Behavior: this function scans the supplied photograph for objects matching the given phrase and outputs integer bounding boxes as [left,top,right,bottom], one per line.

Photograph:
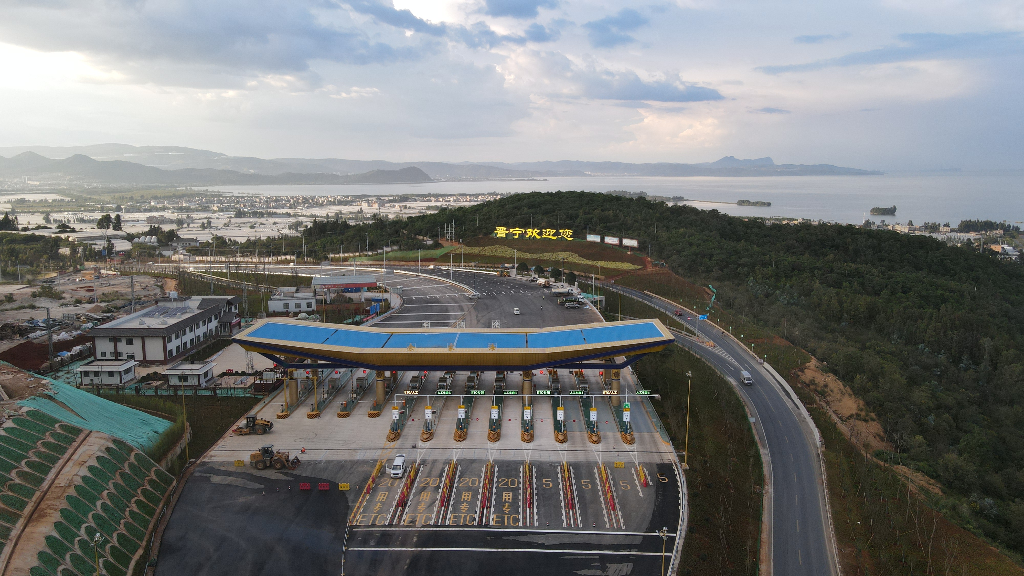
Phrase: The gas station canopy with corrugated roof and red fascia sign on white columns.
[308,275,384,299]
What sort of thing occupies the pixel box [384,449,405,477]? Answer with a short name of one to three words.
vehicle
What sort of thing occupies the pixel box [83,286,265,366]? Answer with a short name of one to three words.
building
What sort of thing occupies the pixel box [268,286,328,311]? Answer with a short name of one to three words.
building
